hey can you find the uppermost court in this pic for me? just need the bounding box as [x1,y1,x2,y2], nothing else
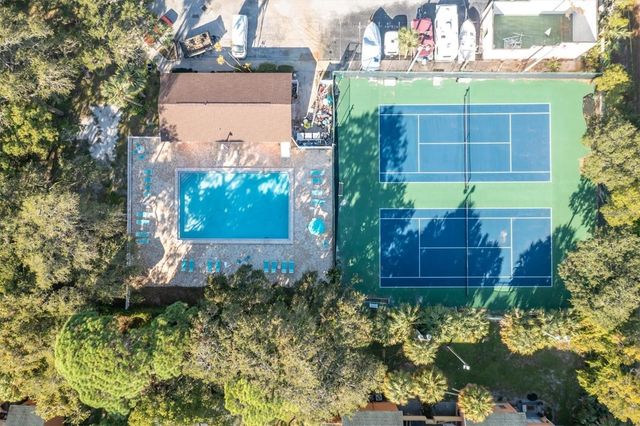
[482,0,599,59]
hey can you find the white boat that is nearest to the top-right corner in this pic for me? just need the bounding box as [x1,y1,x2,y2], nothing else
[461,20,476,66]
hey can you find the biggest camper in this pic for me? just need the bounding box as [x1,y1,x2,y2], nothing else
[436,2,458,63]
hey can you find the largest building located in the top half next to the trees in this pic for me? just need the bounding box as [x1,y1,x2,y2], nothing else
[157,72,292,144]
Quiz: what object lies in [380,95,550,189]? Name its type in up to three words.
tennis court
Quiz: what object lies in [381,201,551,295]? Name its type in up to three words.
tennis court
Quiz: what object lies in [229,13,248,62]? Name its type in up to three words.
vehicle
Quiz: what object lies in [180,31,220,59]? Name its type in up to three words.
trailer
